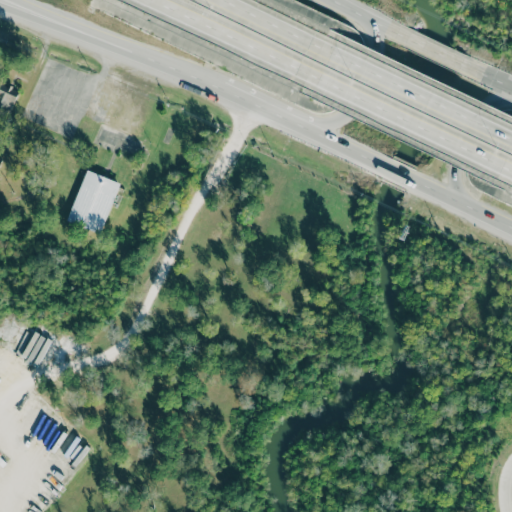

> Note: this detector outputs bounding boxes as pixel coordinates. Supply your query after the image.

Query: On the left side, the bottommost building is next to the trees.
[68,172,120,235]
